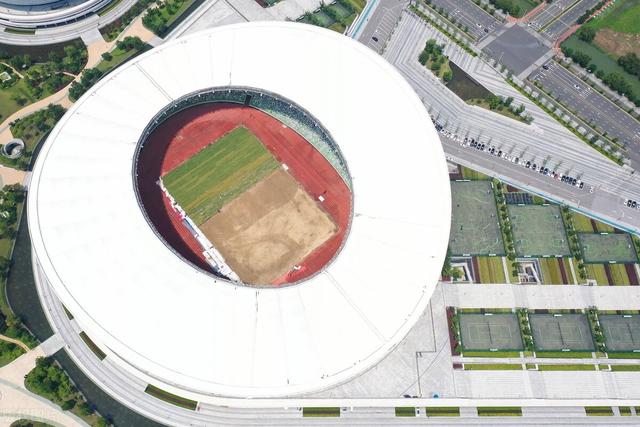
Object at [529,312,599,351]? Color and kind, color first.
gray tennis court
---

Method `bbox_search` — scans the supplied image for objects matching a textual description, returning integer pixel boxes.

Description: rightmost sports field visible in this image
[577,231,640,264]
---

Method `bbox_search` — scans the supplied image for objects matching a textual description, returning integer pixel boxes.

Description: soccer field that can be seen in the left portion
[160,124,338,284]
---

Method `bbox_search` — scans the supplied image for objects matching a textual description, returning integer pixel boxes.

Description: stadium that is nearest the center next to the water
[28,20,452,400]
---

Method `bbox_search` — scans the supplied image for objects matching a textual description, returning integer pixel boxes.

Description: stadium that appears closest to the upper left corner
[0,0,136,47]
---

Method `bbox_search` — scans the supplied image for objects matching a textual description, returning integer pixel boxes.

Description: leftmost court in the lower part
[458,311,526,351]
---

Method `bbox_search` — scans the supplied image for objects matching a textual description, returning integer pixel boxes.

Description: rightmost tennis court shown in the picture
[599,313,640,352]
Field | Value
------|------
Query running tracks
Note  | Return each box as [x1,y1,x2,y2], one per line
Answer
[138,103,346,284]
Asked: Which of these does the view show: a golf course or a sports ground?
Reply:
sports ground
